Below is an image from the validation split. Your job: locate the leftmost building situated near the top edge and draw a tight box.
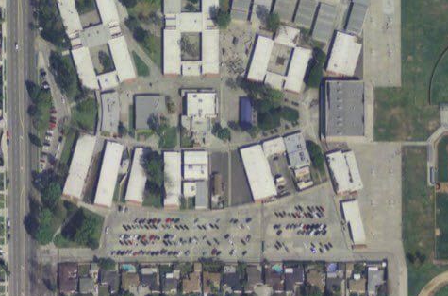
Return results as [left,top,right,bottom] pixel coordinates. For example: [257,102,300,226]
[59,0,135,93]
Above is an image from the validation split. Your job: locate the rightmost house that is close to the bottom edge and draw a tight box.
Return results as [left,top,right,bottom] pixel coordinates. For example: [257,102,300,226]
[367,264,385,287]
